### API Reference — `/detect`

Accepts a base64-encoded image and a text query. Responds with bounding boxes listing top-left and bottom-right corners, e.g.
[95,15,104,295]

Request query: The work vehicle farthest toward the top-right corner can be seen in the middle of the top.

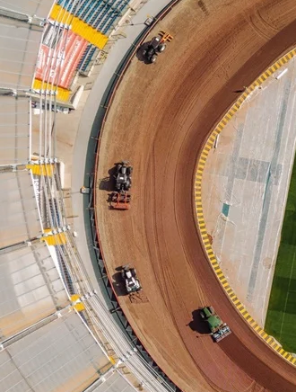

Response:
[138,30,176,59]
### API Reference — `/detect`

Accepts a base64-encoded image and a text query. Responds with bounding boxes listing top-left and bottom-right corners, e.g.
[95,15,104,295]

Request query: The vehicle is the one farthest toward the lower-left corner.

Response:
[116,255,144,297]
